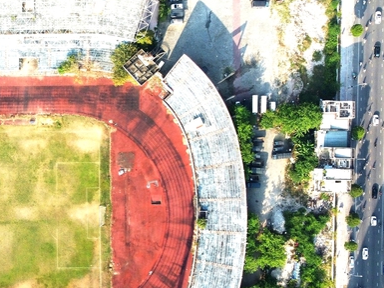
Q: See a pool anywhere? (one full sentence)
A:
No, the frame has no pool in it.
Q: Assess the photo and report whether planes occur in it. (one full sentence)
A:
No, there appears to be no plane in this shot.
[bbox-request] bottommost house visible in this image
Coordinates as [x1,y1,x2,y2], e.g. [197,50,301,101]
[303,179,353,194]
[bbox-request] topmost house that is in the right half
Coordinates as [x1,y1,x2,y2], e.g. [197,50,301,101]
[306,101,359,120]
